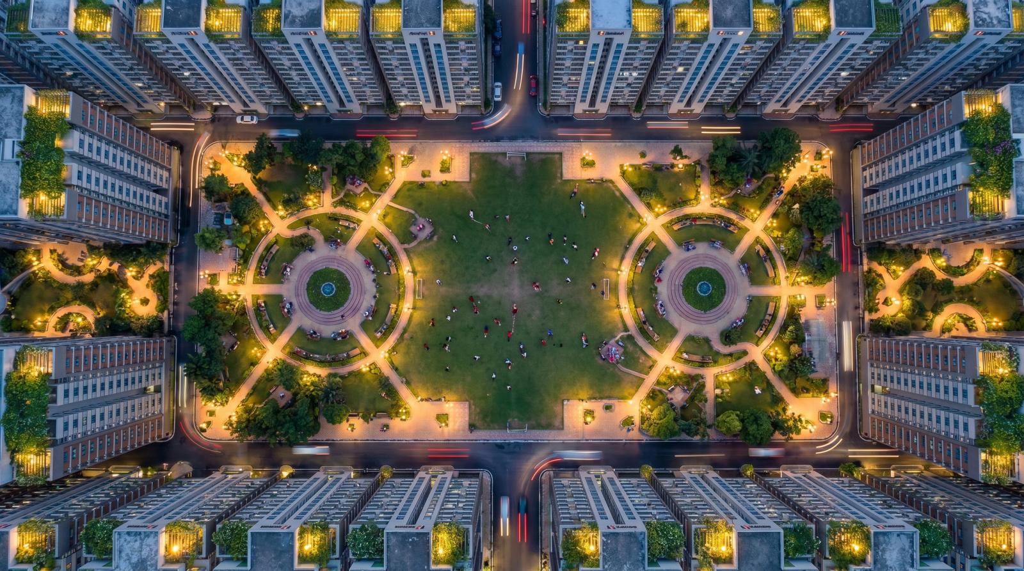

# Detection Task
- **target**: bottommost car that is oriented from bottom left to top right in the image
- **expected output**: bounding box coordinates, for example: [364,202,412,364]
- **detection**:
[821,437,842,454]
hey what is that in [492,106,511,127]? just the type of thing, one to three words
car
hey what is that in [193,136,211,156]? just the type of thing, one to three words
car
